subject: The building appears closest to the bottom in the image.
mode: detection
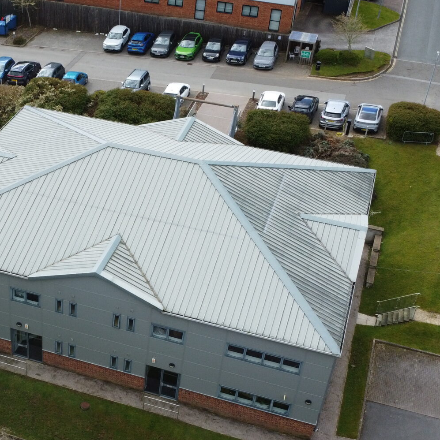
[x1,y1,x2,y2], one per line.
[0,104,378,439]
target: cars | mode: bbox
[173,34,201,60]
[257,89,285,106]
[64,67,89,84]
[253,42,279,68]
[148,32,175,57]
[159,78,192,105]
[225,36,253,65]
[4,61,40,85]
[354,104,384,133]
[289,93,316,121]
[197,36,223,62]
[99,23,130,51]
[124,30,152,54]
[120,61,152,92]
[0,54,15,82]
[34,58,65,75]
[321,98,350,128]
